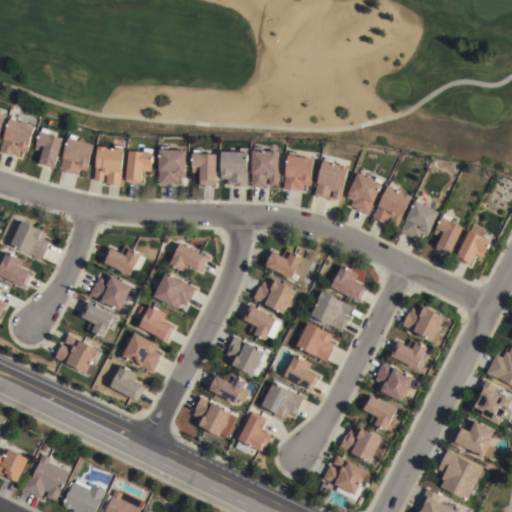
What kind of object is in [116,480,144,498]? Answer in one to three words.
swimming pool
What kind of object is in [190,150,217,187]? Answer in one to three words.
house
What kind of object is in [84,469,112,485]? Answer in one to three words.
swimming pool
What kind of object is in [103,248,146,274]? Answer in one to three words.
house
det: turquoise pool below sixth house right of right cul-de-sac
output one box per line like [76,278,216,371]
[331,492,348,508]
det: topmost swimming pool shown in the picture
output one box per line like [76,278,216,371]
[276,349,292,374]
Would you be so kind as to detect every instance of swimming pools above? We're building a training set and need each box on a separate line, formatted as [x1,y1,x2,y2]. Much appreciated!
[496,438,510,455]
[116,480,144,498]
[331,492,348,508]
[84,469,112,485]
[276,349,292,374]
